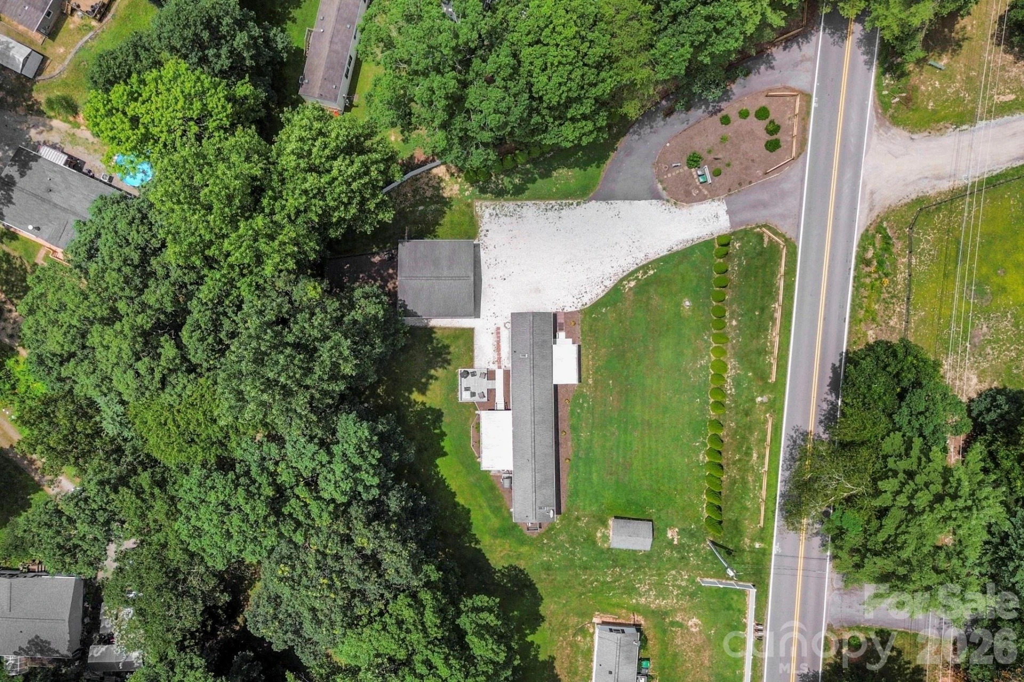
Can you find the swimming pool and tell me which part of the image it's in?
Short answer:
top left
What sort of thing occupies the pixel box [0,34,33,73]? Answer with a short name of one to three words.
shed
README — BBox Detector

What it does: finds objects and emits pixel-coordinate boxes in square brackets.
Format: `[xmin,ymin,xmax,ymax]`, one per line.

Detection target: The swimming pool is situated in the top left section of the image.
[110,155,156,190]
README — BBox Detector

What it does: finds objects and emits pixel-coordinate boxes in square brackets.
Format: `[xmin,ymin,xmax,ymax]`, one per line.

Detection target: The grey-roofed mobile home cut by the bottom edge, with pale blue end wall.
[592,623,640,682]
